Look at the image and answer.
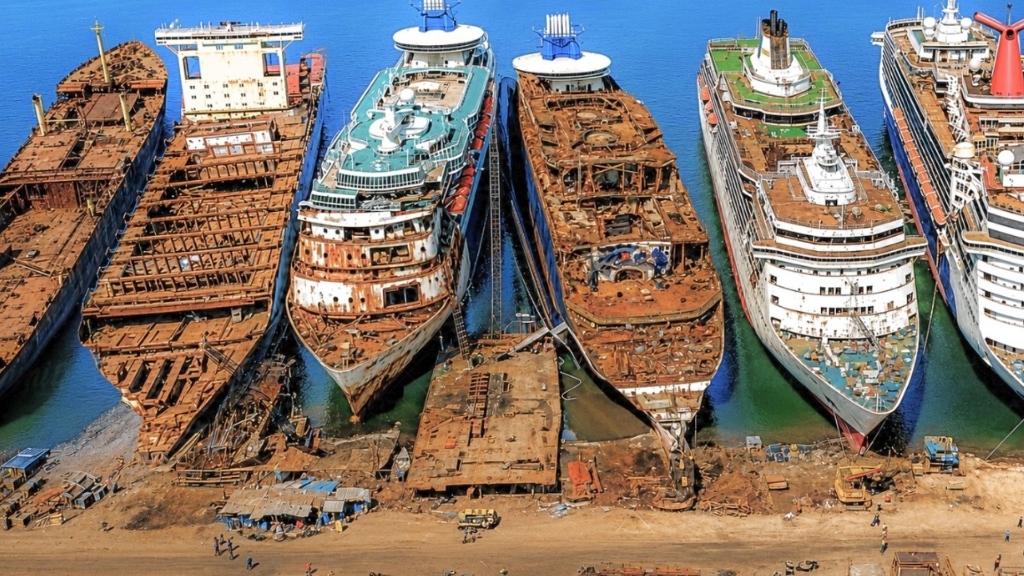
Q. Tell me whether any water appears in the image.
Yes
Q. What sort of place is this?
parking lot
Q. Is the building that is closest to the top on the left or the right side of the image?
right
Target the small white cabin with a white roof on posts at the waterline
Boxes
[745,431,767,456]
